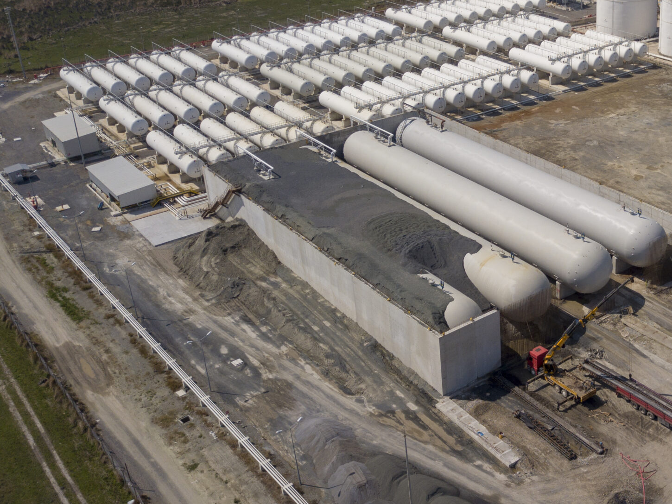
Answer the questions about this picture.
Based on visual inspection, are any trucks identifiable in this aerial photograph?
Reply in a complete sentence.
Yes, a truck can be made out from above.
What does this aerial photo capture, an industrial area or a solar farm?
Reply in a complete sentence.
This image shows an industrial area.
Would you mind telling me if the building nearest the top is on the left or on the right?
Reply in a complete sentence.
You can find the building nearest the top on the left side of the picture.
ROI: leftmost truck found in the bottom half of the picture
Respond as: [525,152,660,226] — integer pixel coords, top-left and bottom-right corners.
[520,287,622,417]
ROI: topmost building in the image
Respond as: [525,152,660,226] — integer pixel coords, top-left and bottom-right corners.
[43,111,109,159]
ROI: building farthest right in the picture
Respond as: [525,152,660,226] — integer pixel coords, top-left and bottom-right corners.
[86,148,165,207]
